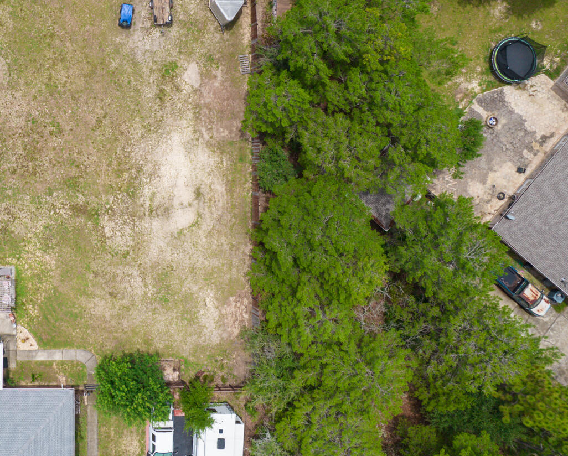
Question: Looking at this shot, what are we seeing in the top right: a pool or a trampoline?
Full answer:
Visible in the top right is a trampoline.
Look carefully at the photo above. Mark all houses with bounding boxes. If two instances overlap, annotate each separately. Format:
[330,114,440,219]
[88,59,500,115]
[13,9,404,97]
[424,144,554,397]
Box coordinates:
[0,382,75,456]
[481,123,568,303]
